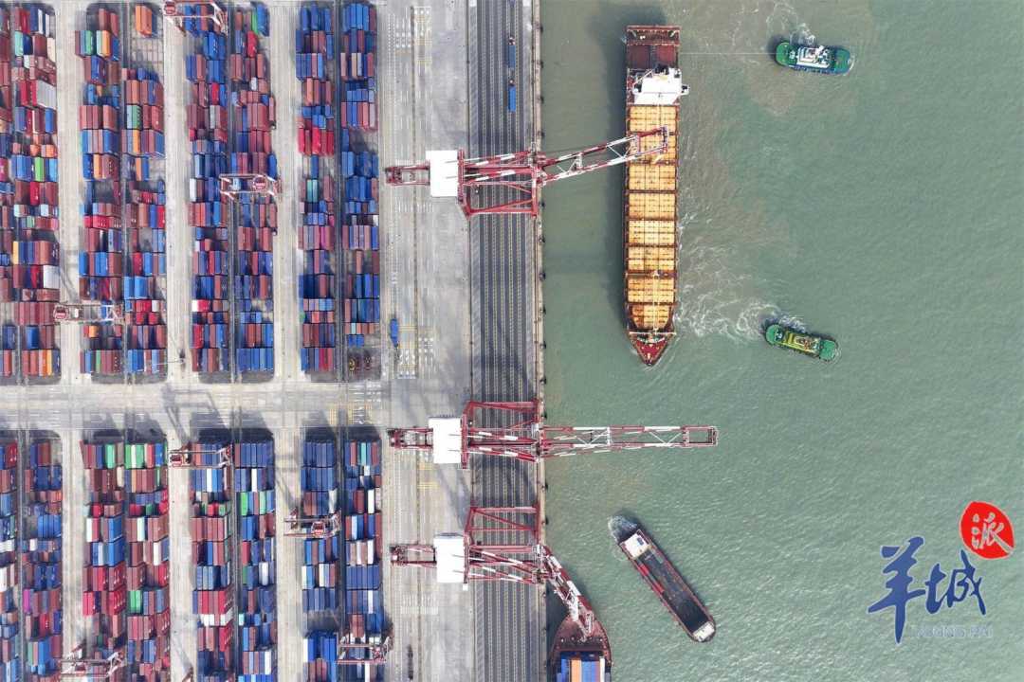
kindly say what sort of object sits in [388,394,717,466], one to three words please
container crane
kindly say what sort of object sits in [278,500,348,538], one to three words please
crane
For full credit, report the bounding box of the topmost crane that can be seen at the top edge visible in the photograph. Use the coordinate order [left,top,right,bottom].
[160,1,236,47]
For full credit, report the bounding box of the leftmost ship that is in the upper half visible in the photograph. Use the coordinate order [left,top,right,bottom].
[621,25,687,366]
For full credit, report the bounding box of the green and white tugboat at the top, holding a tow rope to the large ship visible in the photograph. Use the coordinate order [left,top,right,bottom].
[774,40,852,77]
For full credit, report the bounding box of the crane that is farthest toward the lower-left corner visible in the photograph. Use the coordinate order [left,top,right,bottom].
[51,630,132,676]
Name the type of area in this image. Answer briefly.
port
